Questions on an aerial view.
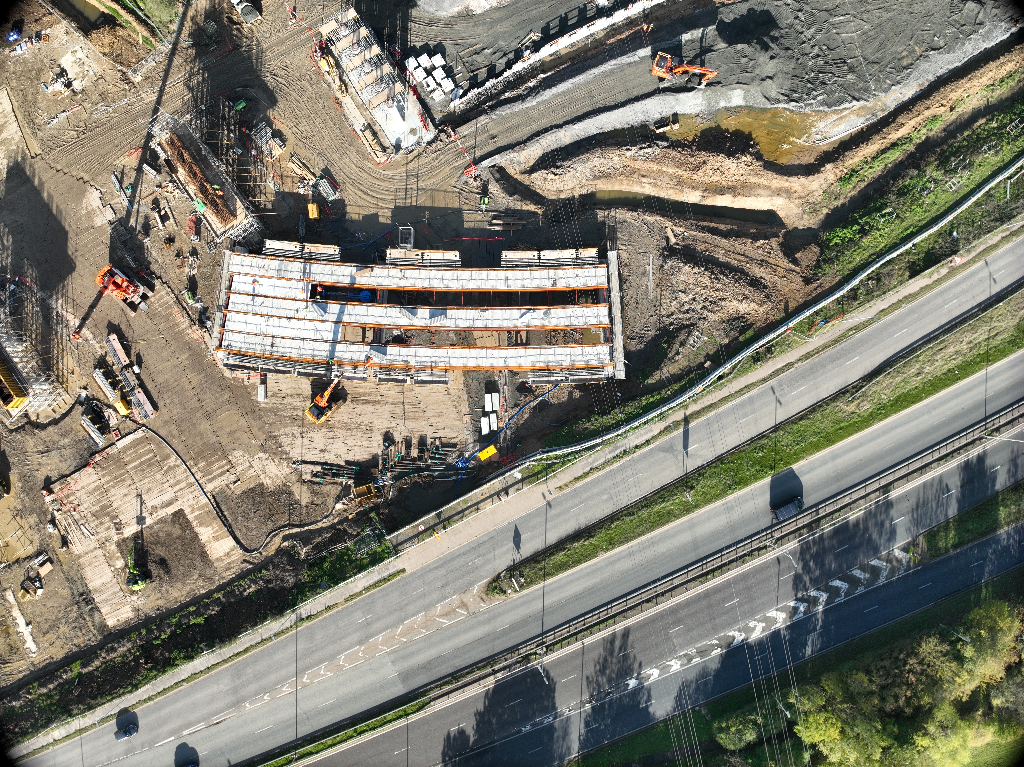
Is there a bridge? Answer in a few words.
Yes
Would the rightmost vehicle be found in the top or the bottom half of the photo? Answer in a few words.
bottom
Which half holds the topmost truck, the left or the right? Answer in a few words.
left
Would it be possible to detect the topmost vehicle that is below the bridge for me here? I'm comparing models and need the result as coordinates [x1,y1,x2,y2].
[303,370,341,431]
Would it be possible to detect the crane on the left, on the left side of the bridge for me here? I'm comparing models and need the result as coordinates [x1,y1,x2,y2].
[72,258,160,347]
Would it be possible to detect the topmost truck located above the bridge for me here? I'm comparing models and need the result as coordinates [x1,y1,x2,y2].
[224,0,267,33]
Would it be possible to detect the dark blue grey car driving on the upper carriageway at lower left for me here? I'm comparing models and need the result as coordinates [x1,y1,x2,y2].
[111,721,143,745]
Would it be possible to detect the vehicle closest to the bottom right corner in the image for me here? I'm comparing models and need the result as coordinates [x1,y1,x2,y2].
[768,496,806,521]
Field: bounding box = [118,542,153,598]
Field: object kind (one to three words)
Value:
work vehicle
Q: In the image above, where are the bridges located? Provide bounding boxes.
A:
[214,249,614,372]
